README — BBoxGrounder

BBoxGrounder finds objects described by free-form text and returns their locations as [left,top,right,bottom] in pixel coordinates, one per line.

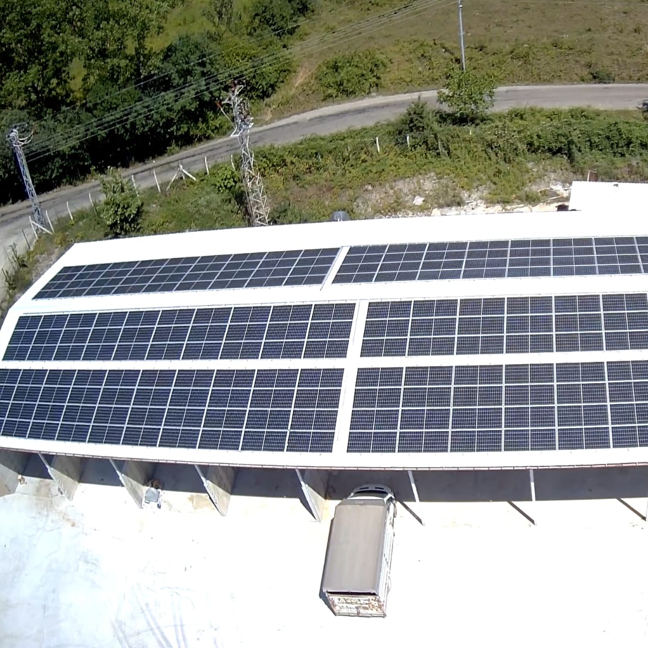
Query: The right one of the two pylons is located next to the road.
[210,82,272,228]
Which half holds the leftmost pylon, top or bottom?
top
